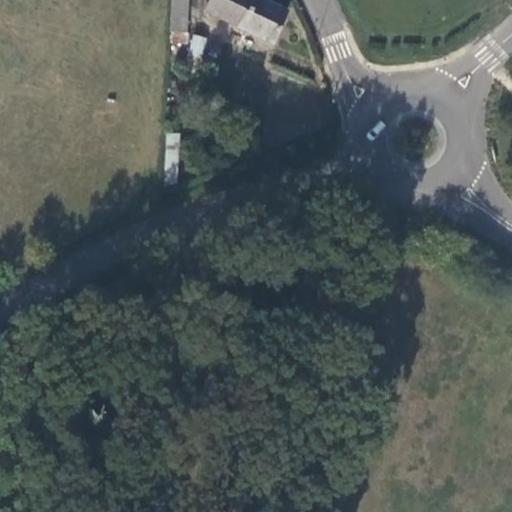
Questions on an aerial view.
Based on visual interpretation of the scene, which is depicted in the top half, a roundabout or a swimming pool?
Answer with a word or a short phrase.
roundabout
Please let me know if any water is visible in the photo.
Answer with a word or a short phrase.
No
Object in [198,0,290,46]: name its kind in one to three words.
house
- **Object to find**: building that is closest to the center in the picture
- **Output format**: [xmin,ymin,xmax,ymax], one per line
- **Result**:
[164,132,181,184]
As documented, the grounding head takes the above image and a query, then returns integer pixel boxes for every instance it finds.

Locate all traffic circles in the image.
[340,64,486,207]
